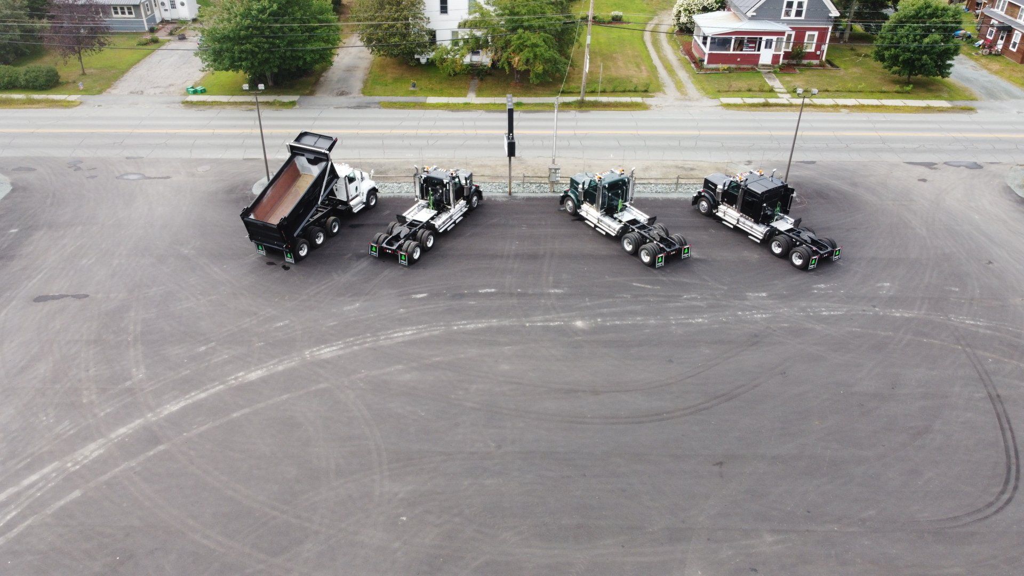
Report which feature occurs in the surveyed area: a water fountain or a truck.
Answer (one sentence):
There is a truck in the scene.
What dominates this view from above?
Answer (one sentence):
What you mostly see from above here is paved ground.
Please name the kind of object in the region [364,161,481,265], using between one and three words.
truck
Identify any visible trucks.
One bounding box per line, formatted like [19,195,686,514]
[694,156,848,271]
[364,161,481,265]
[236,128,380,262]
[561,160,696,267]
